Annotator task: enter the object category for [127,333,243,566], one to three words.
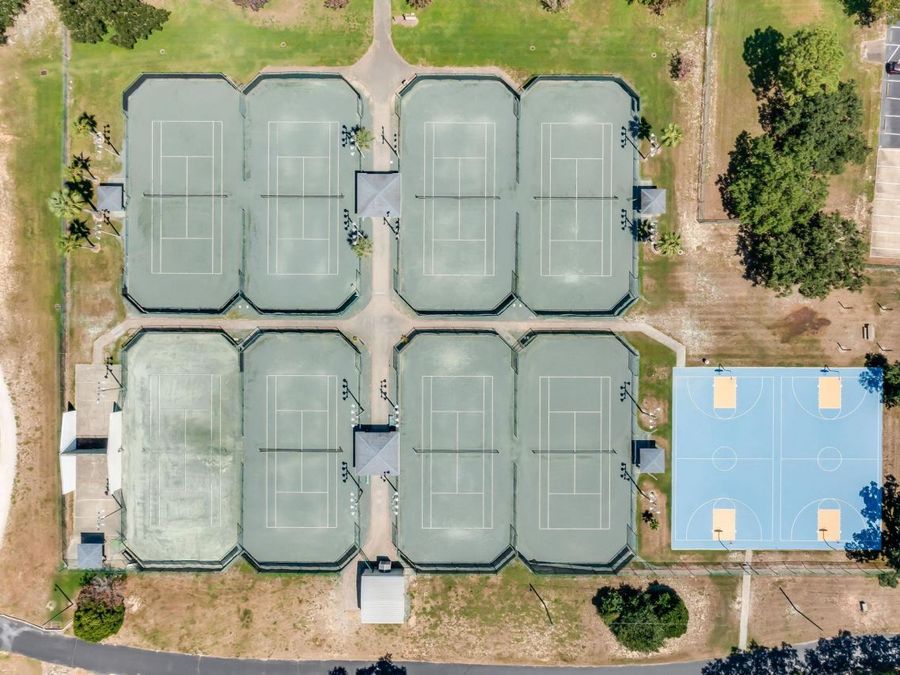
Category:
tennis court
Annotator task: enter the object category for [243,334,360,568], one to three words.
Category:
tennis court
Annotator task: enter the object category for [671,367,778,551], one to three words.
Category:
basketball court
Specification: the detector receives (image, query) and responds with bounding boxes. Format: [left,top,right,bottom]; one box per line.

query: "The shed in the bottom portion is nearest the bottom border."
[361,570,404,623]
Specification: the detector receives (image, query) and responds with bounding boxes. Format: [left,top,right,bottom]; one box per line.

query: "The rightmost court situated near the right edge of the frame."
[777,367,883,551]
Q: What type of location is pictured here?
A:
sports ground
